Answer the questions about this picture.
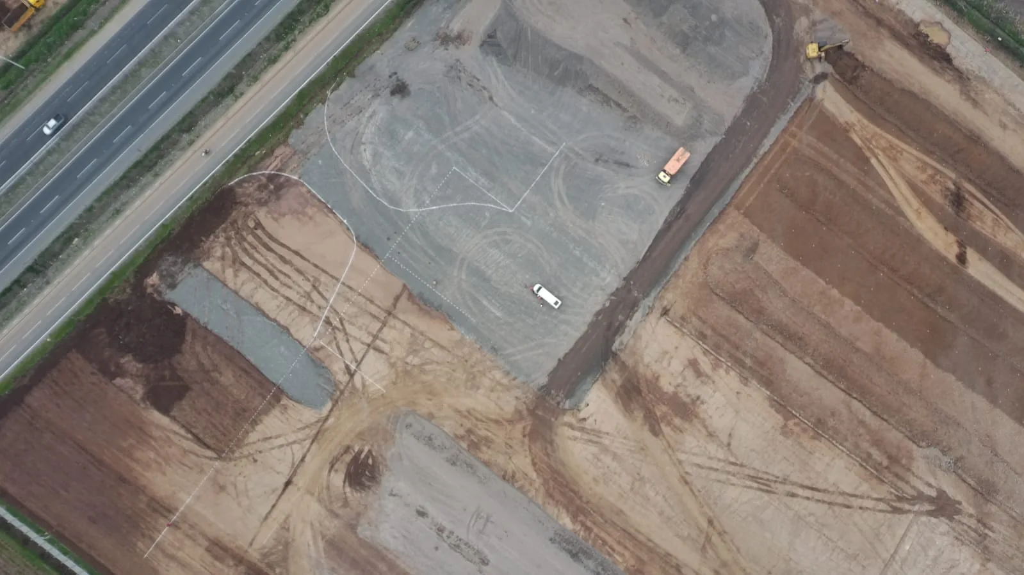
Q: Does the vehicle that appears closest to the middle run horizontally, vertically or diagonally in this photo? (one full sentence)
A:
Seen from above, the vehicle that appears closest to the middle lies diagonally.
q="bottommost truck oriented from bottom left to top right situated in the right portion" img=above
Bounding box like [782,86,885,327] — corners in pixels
[655,146,690,185]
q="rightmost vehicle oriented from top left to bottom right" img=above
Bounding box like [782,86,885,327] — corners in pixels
[533,285,562,309]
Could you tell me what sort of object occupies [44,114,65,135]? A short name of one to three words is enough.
truck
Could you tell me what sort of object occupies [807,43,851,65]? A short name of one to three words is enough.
work vehicle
